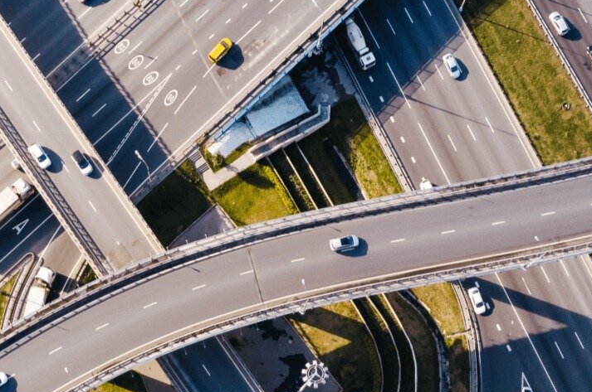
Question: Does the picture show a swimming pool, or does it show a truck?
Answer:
truck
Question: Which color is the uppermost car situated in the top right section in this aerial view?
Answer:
white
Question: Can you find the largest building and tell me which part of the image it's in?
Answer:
top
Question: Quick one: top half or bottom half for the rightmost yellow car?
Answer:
top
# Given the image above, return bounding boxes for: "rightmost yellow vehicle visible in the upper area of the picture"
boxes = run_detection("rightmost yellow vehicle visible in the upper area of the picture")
[207,35,235,64]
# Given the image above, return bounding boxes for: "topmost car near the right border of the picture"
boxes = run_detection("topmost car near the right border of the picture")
[547,8,570,38]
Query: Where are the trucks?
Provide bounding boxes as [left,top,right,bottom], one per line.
[20,260,58,317]
[0,175,32,219]
[343,16,379,75]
